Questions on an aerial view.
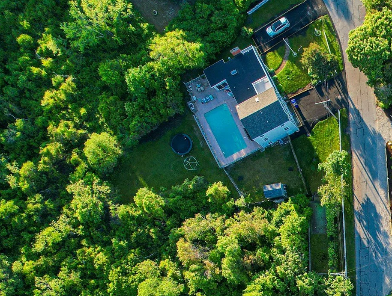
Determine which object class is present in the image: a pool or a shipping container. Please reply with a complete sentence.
Visible in the photo is a pool.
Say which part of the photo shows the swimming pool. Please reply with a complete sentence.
You can find the swimming pool in the center area of the picture.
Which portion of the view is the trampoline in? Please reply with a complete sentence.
The trampoline is located in the center region of the scene.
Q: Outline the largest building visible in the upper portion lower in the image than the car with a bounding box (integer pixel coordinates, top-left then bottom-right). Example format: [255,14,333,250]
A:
[204,45,299,145]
